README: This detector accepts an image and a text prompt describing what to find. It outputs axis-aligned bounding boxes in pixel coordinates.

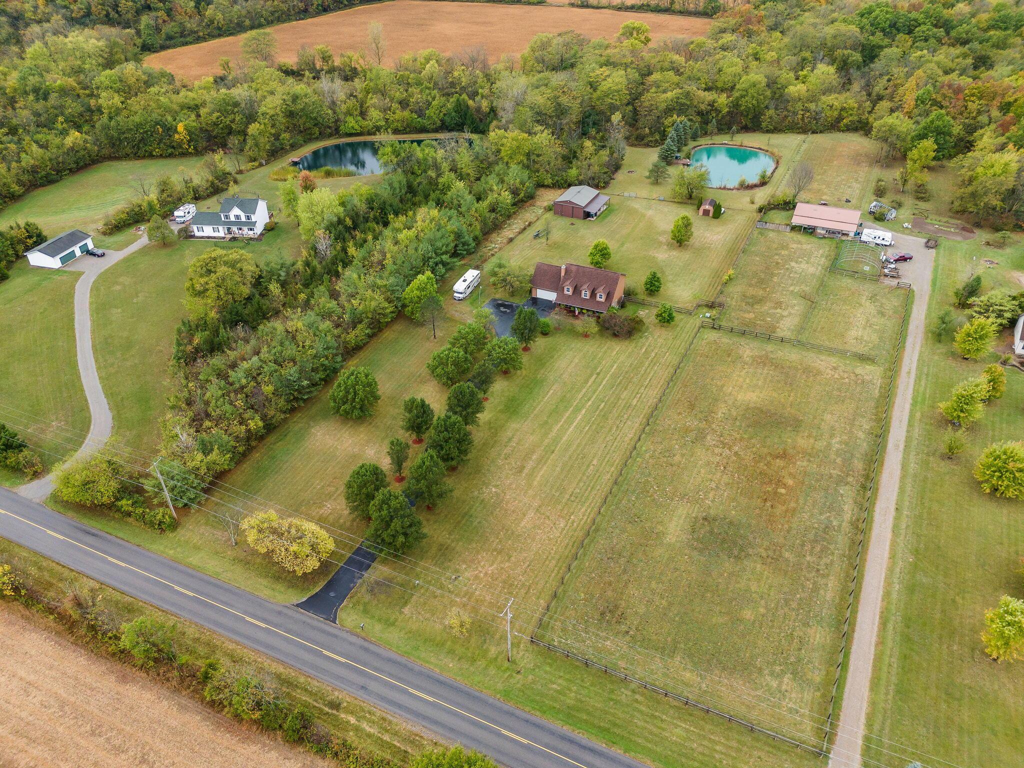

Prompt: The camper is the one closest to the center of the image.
[453,267,481,299]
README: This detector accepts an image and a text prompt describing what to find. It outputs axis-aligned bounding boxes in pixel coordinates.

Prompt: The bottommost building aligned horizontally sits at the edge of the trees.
[534,263,636,322]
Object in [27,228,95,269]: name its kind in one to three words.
building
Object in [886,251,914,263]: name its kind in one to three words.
vehicle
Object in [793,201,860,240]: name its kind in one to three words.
building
